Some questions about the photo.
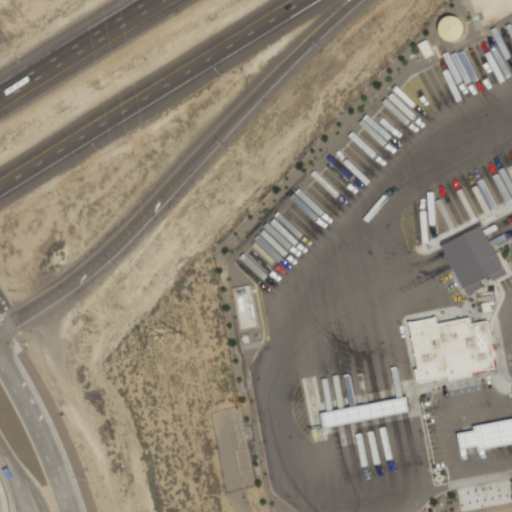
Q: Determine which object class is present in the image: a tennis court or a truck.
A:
truck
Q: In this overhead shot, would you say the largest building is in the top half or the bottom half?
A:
bottom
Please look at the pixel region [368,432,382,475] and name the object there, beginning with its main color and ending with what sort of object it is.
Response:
white vehicle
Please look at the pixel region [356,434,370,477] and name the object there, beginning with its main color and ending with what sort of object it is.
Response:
white vehicle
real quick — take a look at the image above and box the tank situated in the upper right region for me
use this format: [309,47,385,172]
[436,14,466,44]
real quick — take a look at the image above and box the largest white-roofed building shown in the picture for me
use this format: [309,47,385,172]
[408,316,496,384]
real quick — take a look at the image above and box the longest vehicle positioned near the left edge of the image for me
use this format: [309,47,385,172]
[4,77,31,95]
